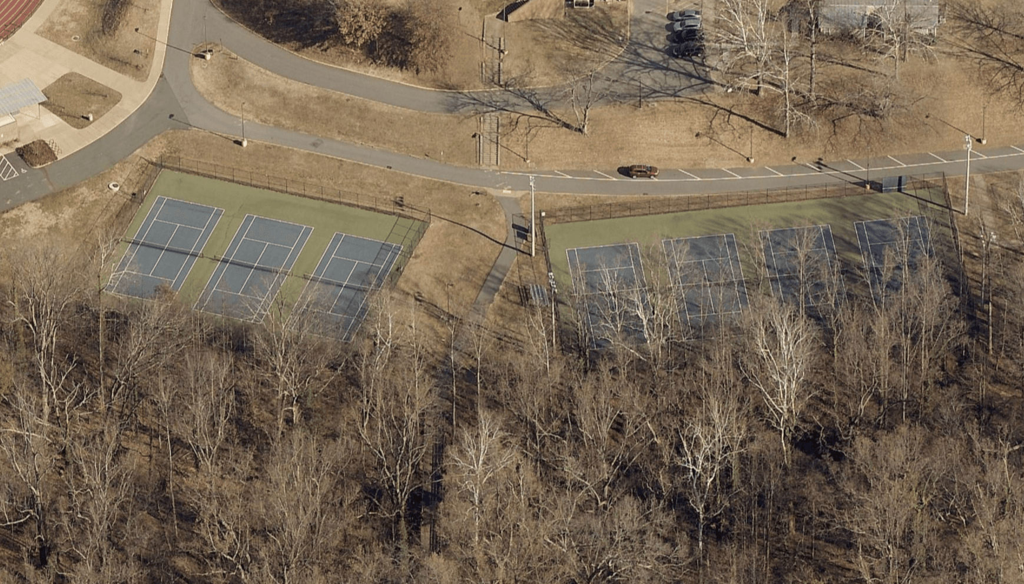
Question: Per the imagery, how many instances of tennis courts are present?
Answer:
two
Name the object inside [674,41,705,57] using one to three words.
car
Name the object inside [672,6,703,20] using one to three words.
car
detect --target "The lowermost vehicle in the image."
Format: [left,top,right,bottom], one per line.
[627,167,659,181]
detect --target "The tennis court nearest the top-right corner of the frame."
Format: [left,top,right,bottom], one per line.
[543,187,981,372]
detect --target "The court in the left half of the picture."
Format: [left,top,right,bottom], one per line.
[86,169,427,363]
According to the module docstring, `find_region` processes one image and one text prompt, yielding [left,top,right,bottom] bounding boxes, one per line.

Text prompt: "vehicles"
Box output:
[674,30,705,44]
[672,6,703,20]
[674,41,705,57]
[673,17,704,32]
[627,167,659,181]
